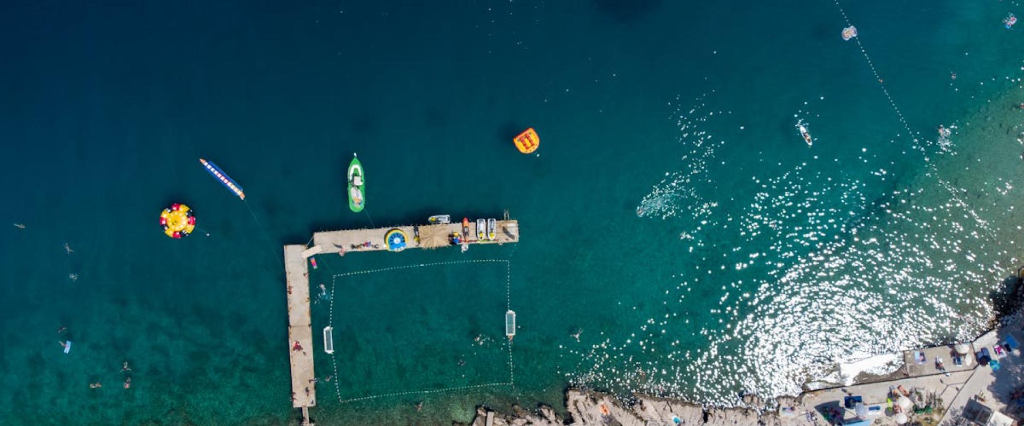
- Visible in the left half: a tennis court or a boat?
boat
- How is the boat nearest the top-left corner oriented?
diagonally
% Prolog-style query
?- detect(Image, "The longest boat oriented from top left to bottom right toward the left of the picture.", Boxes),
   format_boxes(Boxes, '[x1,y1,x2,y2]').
[198,159,245,200]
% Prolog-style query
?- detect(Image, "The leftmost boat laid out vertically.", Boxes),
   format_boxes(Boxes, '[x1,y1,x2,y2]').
[346,151,365,212]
